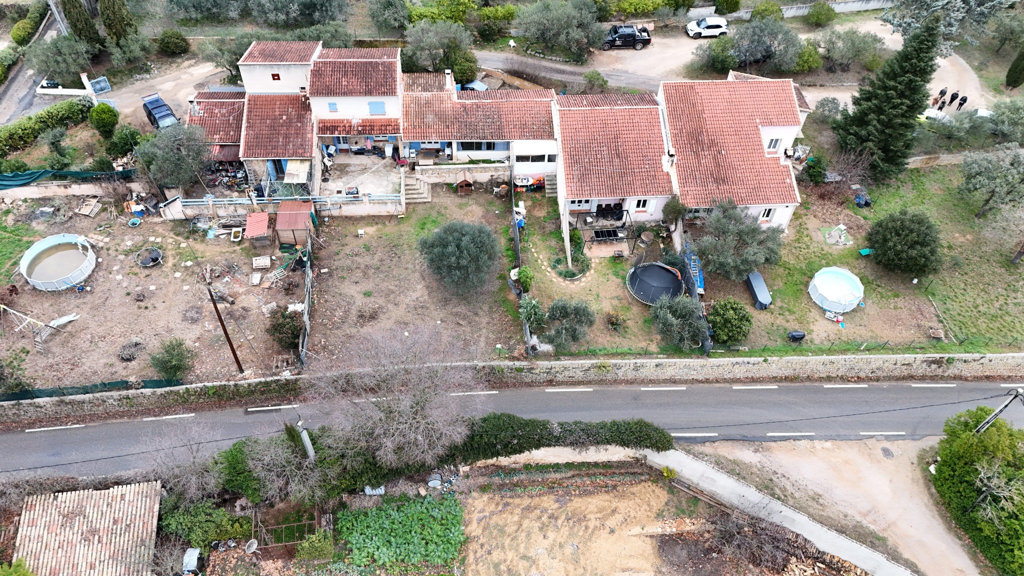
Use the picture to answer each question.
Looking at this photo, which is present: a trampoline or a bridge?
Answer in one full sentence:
The one in the frame is a trampoline.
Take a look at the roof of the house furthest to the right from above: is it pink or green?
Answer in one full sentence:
In this view, the roof of the house furthest to the right is pink.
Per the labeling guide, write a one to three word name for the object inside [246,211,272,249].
shed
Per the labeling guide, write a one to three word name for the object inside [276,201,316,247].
shed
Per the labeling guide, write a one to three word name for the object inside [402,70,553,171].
house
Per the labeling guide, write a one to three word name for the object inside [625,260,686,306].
trampoline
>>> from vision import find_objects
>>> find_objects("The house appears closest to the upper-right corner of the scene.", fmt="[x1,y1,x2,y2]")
[650,69,812,237]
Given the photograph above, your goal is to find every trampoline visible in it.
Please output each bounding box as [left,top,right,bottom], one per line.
[132,247,162,268]
[625,260,686,306]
